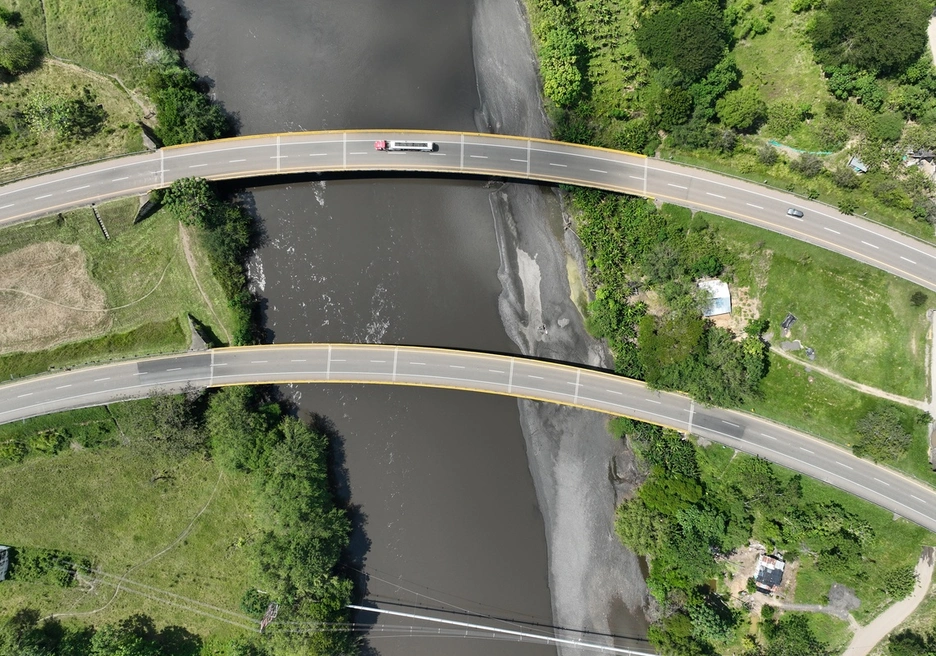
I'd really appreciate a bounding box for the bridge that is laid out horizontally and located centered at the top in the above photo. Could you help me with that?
[155,130,653,198]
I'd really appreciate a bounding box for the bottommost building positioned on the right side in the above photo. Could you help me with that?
[751,554,787,590]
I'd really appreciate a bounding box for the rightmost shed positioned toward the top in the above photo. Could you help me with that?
[906,151,935,169]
